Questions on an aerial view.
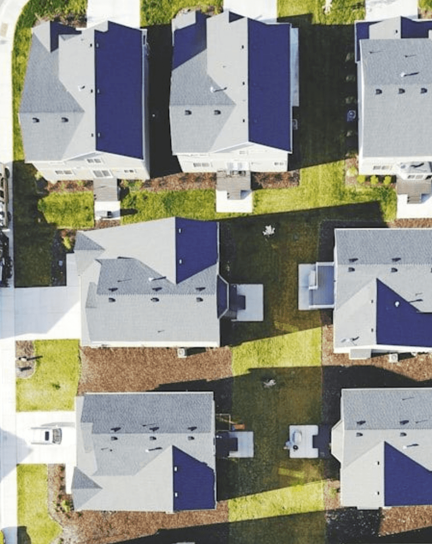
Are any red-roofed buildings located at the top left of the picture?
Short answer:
No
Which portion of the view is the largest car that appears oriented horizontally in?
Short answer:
bottom left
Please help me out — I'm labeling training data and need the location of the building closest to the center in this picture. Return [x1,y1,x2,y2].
[74,216,230,350]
